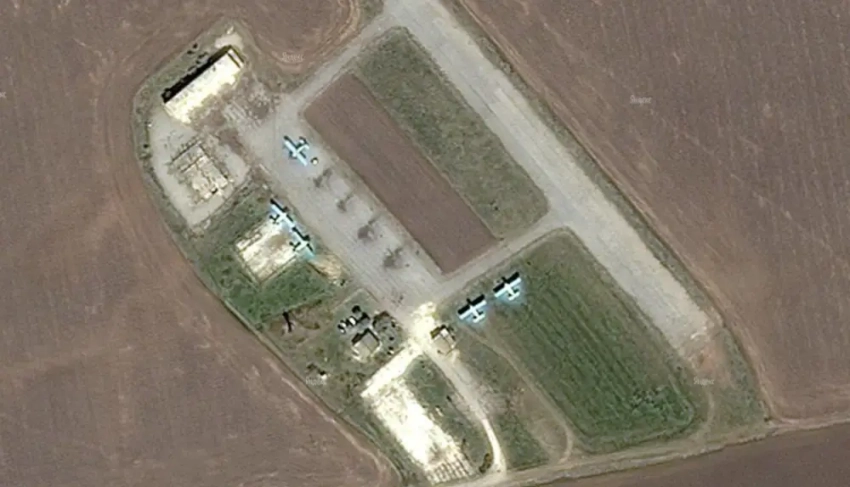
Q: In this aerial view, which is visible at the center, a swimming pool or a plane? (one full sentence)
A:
The one visible at the center is a plane.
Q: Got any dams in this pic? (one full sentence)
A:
No, there is no dam in the image.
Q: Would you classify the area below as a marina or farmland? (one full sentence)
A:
The picture captures farmland.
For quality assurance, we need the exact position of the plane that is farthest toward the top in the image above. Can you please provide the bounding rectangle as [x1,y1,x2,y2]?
[286,140,310,165]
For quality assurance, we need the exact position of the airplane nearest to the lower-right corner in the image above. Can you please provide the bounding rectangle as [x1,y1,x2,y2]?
[495,280,522,303]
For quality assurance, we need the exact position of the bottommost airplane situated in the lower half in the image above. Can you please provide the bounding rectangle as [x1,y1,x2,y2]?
[460,301,486,324]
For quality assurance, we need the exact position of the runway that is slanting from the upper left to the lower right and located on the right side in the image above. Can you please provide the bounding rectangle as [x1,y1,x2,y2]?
[387,0,713,358]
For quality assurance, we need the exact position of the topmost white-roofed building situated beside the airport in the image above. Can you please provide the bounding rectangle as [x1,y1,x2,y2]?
[164,51,243,118]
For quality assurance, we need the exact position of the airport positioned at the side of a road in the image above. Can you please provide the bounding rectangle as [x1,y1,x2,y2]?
[240,0,713,358]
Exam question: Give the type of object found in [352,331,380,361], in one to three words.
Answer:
house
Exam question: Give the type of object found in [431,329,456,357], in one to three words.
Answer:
house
